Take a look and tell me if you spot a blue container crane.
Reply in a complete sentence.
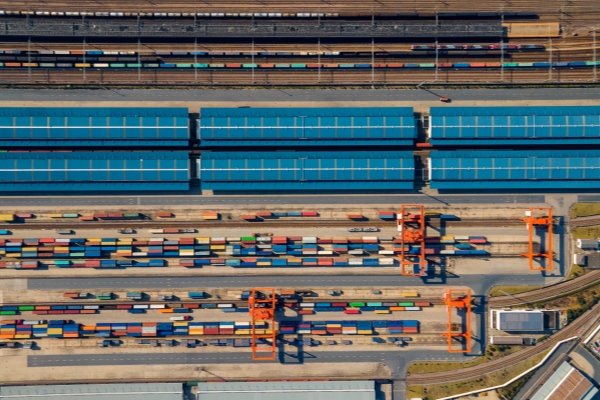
No, the photo shows no blue container crane.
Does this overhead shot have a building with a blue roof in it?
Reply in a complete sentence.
Yes, the photo shows a building with a blue roof.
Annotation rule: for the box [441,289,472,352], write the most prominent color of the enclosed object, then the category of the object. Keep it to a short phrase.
orange container crane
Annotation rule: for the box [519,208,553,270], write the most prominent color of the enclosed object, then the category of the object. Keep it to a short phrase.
orange container crane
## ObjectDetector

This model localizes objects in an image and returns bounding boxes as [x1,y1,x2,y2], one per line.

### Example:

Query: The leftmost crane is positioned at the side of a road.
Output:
[248,288,280,359]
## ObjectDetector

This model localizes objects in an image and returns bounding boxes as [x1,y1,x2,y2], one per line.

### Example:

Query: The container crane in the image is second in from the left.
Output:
[395,205,425,276]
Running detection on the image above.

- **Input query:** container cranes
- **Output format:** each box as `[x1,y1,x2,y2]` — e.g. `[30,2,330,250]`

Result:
[441,289,472,352]
[395,205,425,276]
[519,208,553,270]
[248,288,280,359]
